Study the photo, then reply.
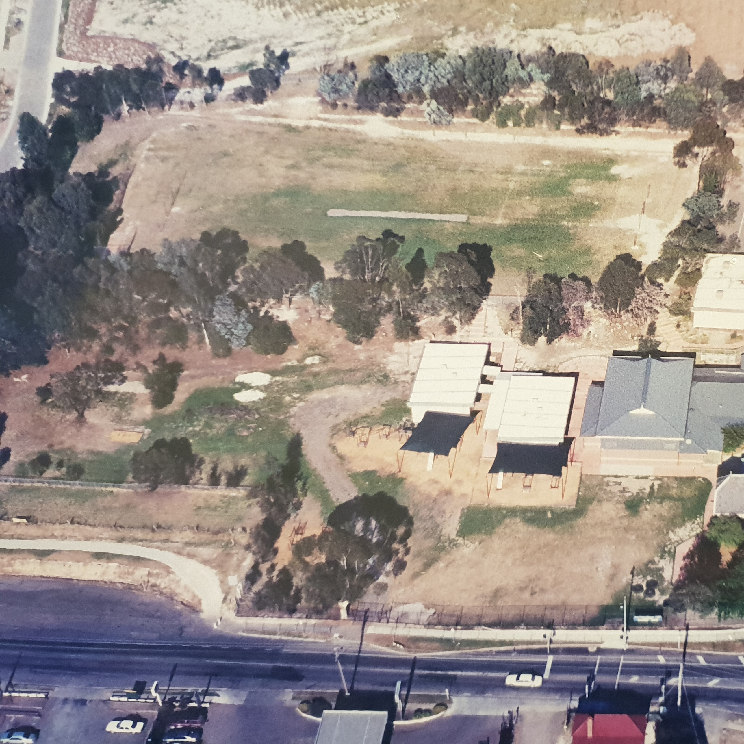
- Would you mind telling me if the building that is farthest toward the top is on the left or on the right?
right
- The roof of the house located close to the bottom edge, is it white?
No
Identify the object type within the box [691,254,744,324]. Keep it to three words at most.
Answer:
building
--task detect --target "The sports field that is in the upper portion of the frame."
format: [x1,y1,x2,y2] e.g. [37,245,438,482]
[328,209,468,222]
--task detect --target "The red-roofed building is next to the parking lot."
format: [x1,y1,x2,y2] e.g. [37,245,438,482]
[572,713,647,744]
